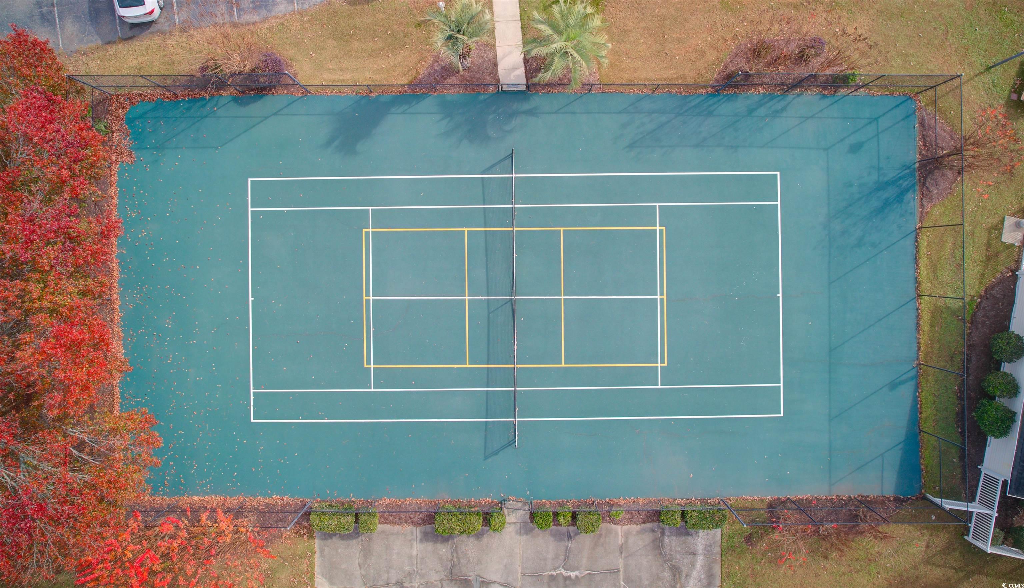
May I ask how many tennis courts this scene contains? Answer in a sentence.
The count comes to 1 tennis court.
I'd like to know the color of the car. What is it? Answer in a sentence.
The color of the car is white.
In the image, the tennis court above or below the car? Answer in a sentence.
From this view, the tennis court can be seen below the car.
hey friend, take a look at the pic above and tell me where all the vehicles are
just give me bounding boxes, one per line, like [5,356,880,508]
[115,0,166,24]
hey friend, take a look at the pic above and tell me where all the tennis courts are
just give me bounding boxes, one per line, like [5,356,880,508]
[106,95,922,503]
